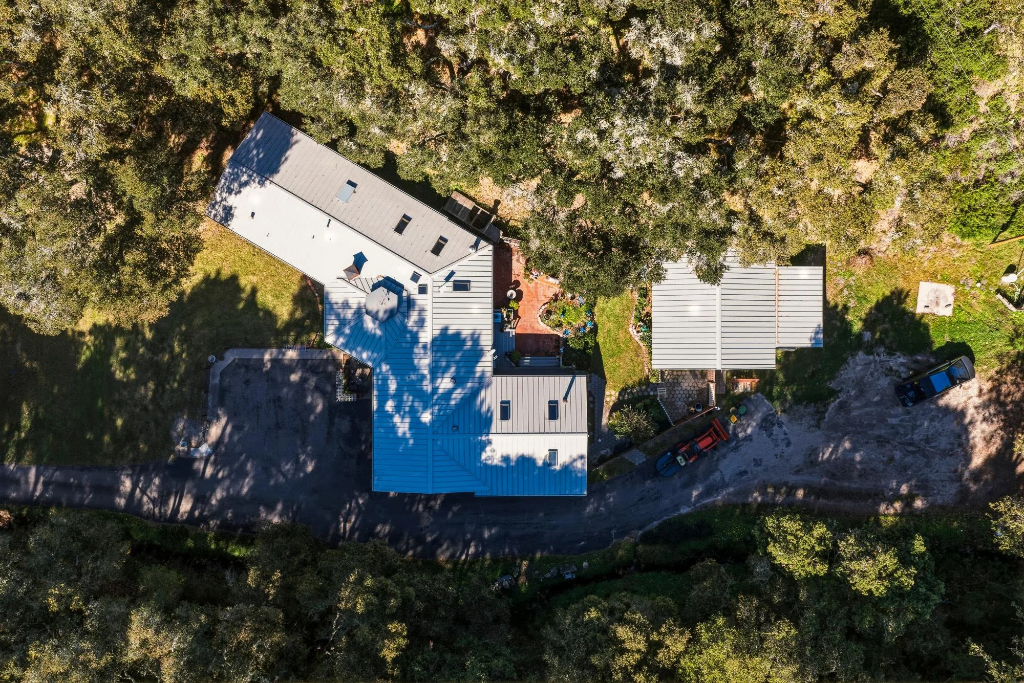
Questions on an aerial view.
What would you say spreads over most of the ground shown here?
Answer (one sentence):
Most of the picture is covered by trees.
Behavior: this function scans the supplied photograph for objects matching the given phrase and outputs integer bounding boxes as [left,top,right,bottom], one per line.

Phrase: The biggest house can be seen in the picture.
[207,111,589,497]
